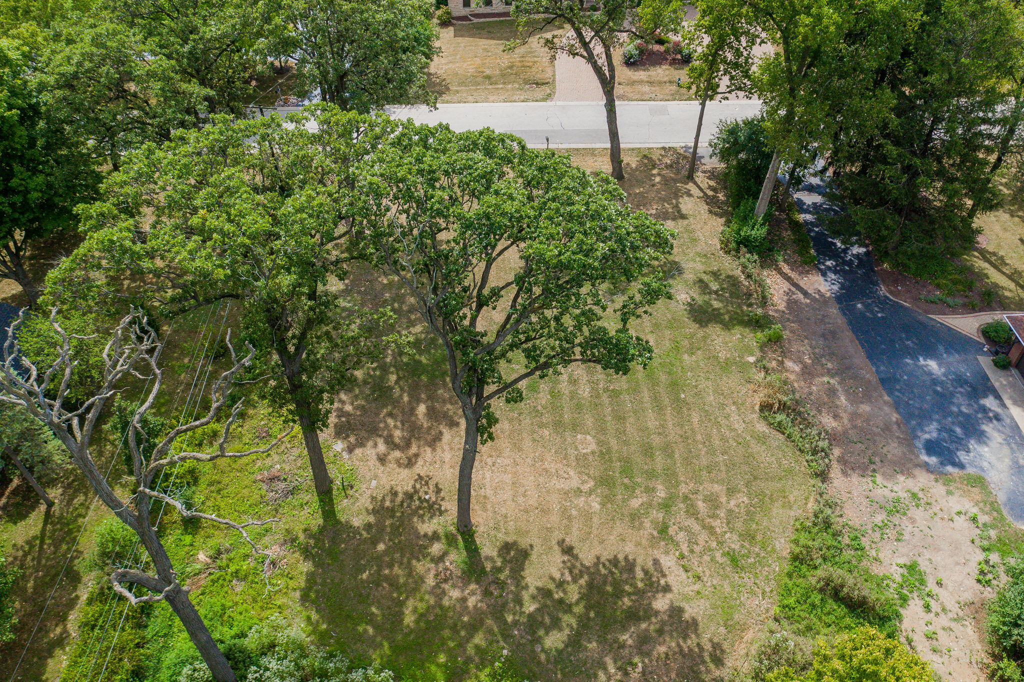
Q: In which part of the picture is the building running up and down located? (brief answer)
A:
right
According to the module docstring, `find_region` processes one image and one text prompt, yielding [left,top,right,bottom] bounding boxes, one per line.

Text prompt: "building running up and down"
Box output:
[994,309,1024,379]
